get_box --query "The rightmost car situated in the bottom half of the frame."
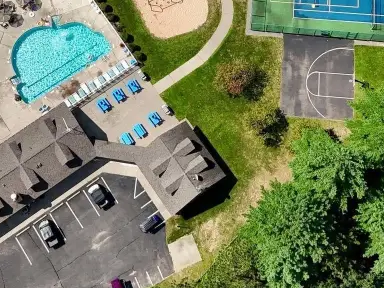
[136,210,168,237]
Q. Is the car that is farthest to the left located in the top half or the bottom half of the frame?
bottom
